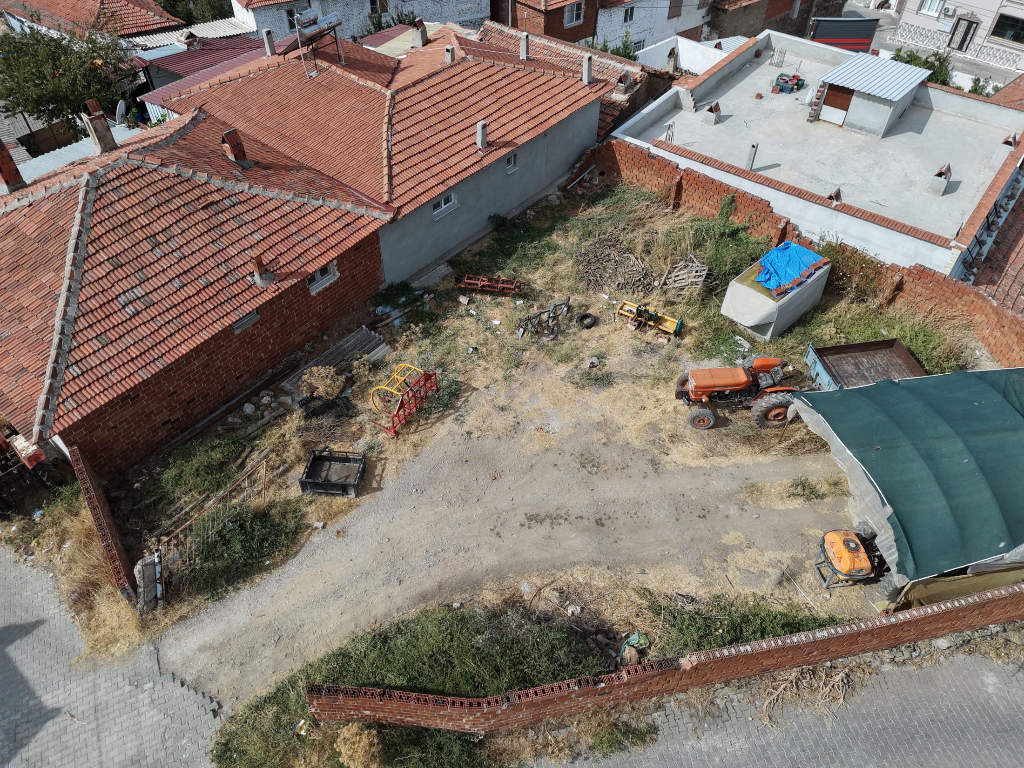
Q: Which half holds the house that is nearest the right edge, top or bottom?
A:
top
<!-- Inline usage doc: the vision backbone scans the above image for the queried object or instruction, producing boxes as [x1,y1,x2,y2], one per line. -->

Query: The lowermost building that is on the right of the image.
[957,196,1024,323]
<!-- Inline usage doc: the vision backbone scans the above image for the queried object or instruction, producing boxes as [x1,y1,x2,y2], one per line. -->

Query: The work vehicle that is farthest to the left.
[674,352,807,430]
